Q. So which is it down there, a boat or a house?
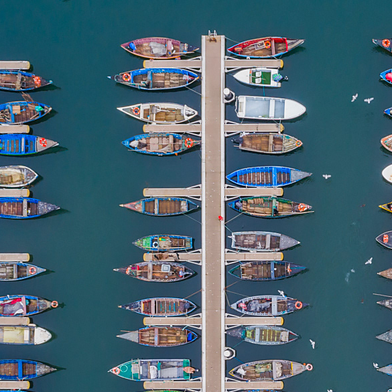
boat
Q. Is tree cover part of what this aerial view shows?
No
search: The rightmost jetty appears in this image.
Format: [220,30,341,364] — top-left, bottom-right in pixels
[143,29,285,392]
